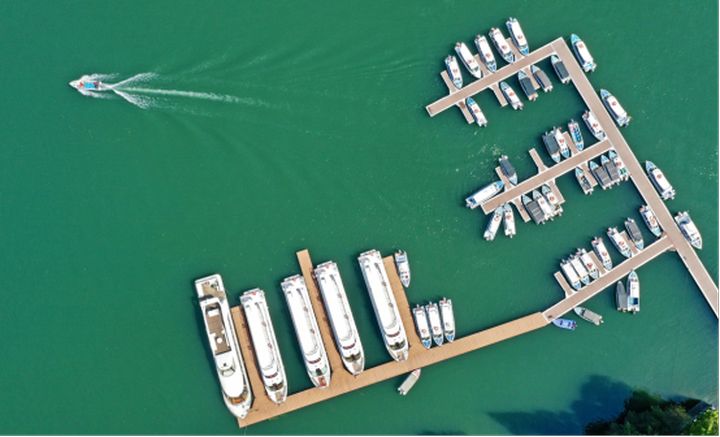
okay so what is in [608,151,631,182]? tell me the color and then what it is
white boat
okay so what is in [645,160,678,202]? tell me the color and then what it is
white boat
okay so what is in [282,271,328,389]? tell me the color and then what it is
white ship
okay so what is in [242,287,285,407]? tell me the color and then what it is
white ship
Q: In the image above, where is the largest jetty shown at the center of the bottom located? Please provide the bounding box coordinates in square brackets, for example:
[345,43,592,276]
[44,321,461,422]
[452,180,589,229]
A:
[231,248,551,429]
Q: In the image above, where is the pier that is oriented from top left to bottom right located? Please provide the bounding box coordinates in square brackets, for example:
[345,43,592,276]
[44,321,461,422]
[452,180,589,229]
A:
[551,38,720,322]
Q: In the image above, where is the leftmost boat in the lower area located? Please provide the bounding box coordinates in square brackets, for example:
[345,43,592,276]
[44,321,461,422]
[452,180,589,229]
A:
[197,274,250,420]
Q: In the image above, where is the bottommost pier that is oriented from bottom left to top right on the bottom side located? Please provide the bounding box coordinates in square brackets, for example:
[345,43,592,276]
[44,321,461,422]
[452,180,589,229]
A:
[544,230,676,322]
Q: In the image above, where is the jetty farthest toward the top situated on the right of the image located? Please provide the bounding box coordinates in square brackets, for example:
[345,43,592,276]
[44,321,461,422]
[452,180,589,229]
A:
[426,37,553,124]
